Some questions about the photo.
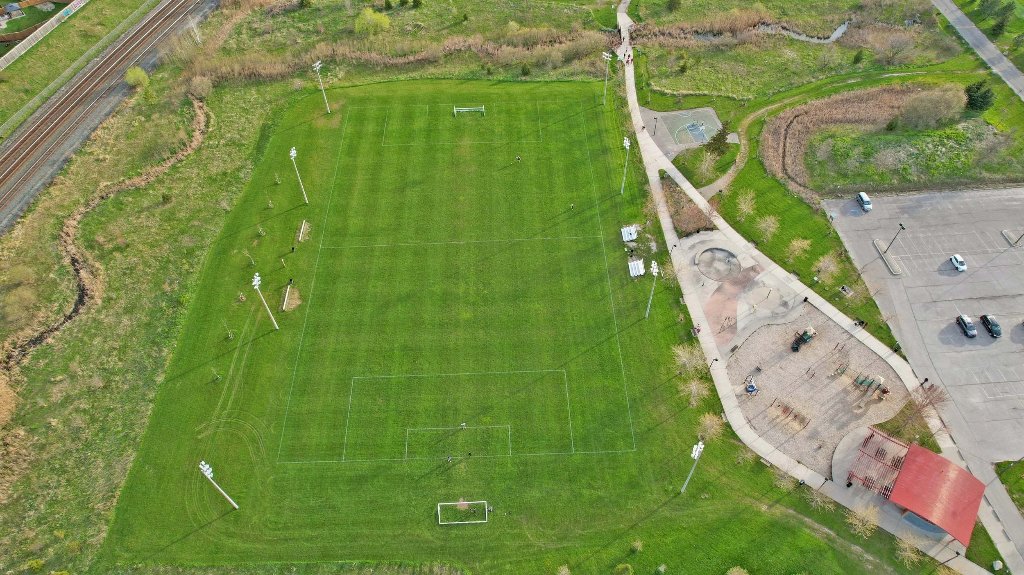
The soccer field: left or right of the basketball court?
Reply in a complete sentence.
You can see the soccer field positioned to the left of the basketball court.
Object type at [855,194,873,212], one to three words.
car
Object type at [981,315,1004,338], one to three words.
car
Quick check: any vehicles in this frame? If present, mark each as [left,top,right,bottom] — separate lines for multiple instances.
[981,315,1004,338]
[958,315,979,338]
[855,194,873,212]
[950,255,969,272]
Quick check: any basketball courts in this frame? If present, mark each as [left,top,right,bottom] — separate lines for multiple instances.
[659,109,727,144]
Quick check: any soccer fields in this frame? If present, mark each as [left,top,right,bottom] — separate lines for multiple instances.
[273,99,641,467]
